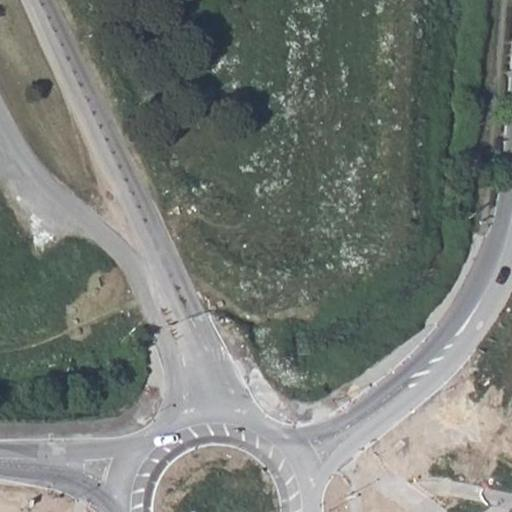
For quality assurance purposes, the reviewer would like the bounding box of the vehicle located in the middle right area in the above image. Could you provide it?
[496,266,510,284]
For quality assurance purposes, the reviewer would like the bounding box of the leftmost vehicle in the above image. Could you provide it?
[154,434,180,447]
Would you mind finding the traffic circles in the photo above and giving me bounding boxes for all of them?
[113,405,321,512]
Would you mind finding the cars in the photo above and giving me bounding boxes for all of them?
[154,434,180,447]
[496,266,510,284]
